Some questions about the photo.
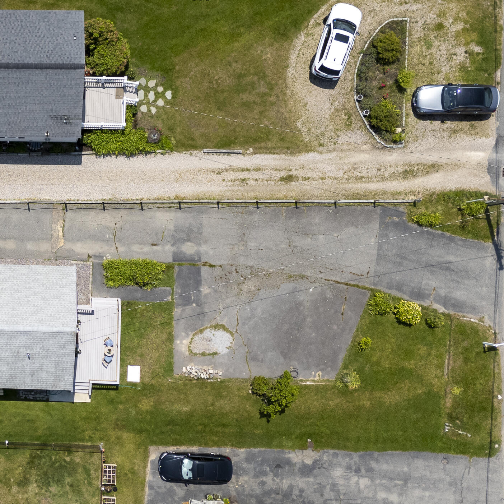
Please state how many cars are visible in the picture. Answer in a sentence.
My tally gives 3 cars in this view.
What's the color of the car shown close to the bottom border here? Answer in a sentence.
In this view, the car shown close to the bottom border is black.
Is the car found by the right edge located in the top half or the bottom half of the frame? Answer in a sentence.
The car found by the right edge is in the top half of the image.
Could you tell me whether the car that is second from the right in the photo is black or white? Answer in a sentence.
The color of the car that is second from the right is white.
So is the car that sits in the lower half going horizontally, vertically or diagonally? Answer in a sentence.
The car that sits in the lower half is oriented horizontally.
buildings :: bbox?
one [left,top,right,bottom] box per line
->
[0,9,85,143]
[0,265,76,391]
